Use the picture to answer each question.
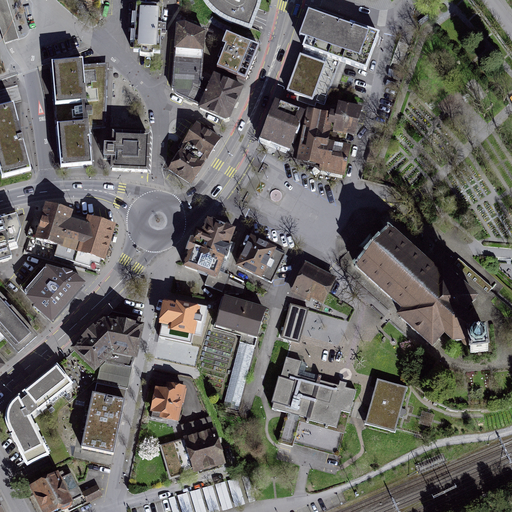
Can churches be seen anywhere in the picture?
Yes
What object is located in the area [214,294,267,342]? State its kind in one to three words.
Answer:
house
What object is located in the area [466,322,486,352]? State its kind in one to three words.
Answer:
building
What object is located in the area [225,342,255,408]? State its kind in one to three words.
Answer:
shed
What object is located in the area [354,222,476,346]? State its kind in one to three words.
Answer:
church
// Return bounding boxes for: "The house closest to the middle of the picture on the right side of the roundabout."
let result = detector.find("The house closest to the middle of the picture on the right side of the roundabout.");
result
[236,234,284,284]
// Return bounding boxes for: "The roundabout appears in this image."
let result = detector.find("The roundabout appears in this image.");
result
[126,190,188,253]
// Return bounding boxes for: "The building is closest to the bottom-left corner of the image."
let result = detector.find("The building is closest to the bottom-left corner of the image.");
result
[30,470,86,512]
